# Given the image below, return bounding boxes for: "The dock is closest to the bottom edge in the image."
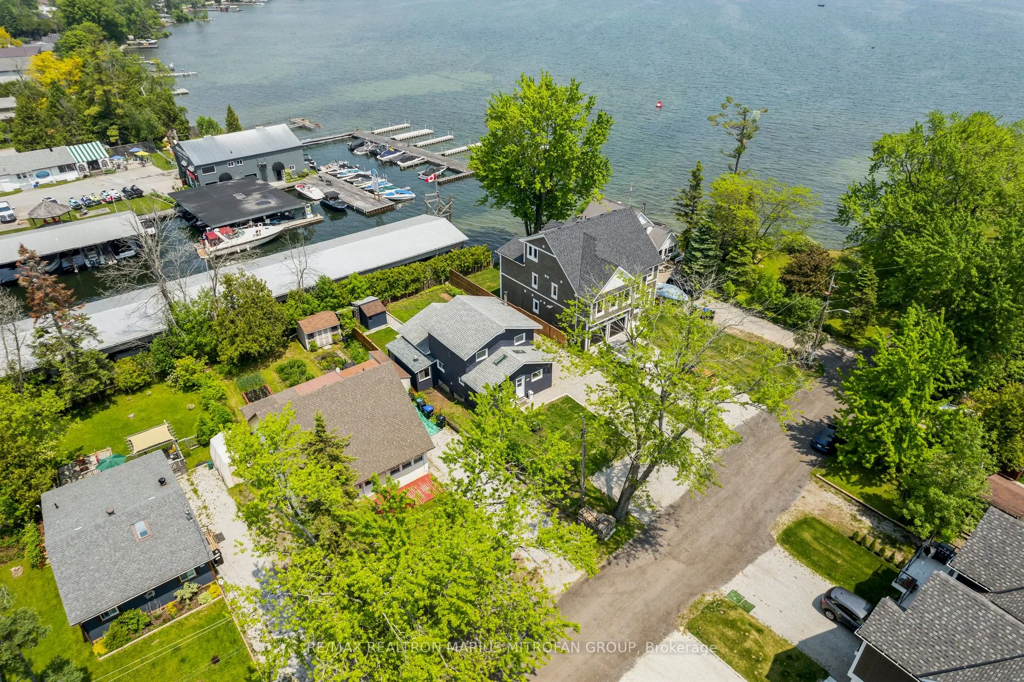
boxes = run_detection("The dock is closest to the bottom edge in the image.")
[193,214,328,255]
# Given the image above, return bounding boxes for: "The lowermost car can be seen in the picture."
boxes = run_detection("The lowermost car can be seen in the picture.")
[816,585,872,638]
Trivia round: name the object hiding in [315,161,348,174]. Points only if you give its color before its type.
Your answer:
white boat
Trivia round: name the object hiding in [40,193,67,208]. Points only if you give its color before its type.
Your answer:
white car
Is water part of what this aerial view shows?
Yes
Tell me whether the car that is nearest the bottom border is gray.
Yes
